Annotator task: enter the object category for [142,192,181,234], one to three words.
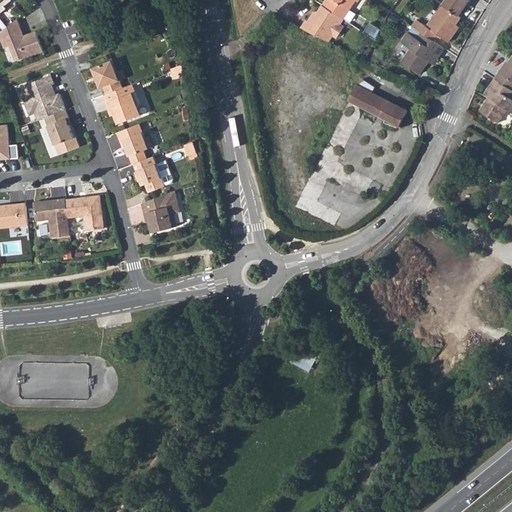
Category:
house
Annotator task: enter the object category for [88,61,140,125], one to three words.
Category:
house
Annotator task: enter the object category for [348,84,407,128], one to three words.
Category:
building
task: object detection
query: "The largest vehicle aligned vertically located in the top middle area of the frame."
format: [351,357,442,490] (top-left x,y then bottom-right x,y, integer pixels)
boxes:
[228,116,240,146]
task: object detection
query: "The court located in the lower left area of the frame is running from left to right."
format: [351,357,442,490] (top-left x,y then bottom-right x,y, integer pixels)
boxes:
[0,354,118,408]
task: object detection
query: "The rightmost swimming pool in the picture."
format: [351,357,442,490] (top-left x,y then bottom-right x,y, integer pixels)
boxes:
[166,148,186,162]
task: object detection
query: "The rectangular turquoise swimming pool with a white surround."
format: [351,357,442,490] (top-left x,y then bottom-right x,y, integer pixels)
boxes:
[0,240,22,256]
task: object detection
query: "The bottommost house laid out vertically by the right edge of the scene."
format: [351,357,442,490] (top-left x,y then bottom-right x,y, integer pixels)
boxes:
[478,54,512,128]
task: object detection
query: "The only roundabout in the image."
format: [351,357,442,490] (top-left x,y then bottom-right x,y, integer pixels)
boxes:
[228,246,284,303]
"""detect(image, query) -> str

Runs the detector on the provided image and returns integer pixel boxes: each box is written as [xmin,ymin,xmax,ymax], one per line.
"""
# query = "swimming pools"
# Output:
[0,240,22,256]
[166,148,186,162]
